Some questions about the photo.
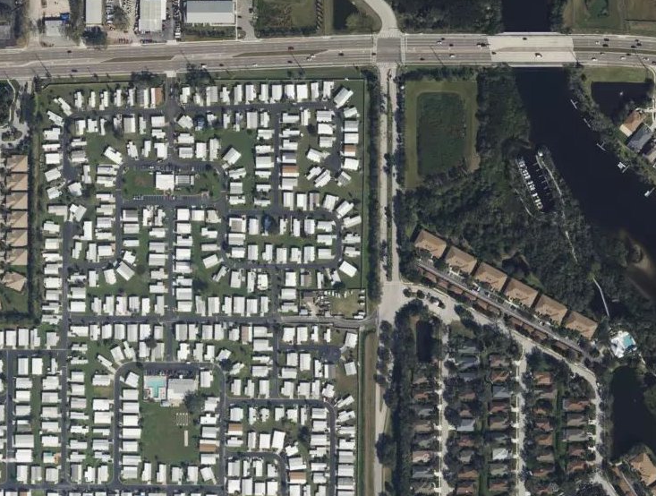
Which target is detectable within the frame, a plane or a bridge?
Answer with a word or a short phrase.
bridge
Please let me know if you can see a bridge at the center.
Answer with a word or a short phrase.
No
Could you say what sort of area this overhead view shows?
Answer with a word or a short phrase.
residential area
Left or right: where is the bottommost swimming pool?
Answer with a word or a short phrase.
left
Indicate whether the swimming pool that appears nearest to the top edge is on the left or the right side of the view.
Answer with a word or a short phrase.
right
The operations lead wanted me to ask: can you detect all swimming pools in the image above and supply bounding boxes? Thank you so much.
[611,332,637,358]
[144,376,167,400]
